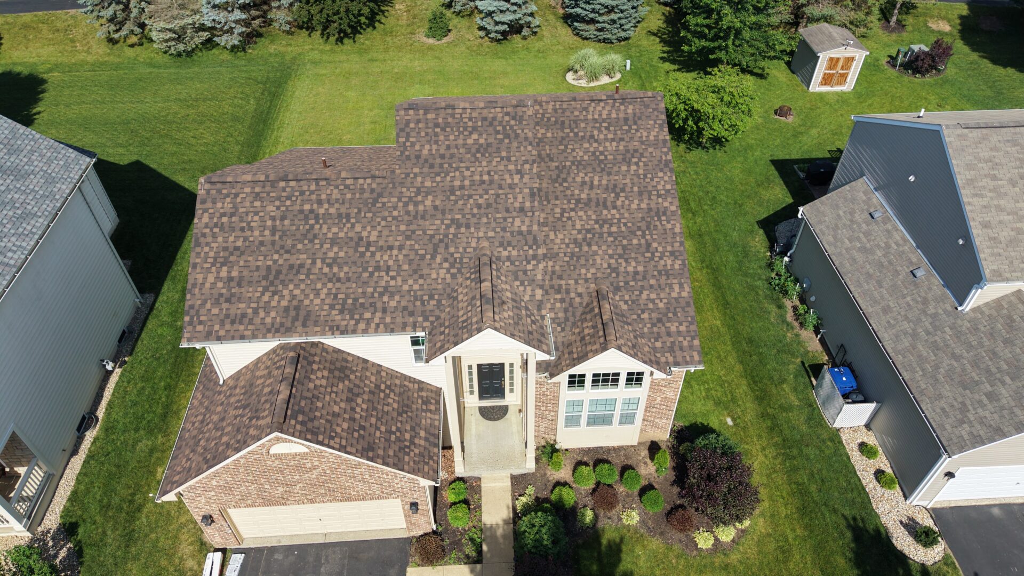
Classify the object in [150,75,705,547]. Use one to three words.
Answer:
house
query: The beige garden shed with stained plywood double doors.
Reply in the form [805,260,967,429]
[793,17,871,89]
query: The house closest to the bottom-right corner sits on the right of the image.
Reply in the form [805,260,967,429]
[792,100,1024,509]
